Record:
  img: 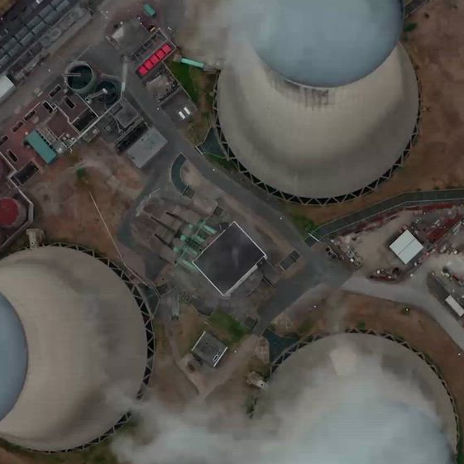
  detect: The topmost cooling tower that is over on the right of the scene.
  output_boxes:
[216,0,426,202]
